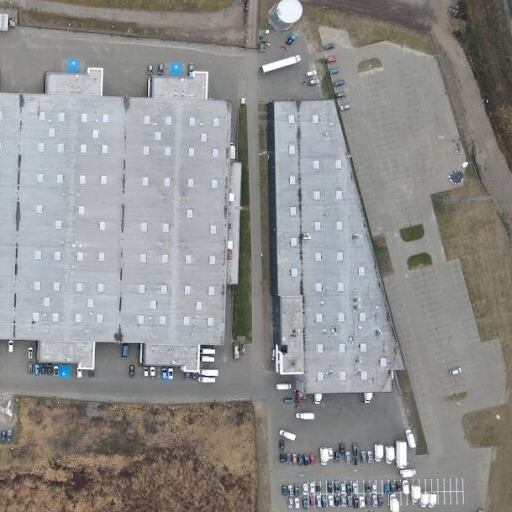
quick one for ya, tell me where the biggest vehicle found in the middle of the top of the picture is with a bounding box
[258,54,302,74]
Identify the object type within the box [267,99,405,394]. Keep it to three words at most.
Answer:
building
